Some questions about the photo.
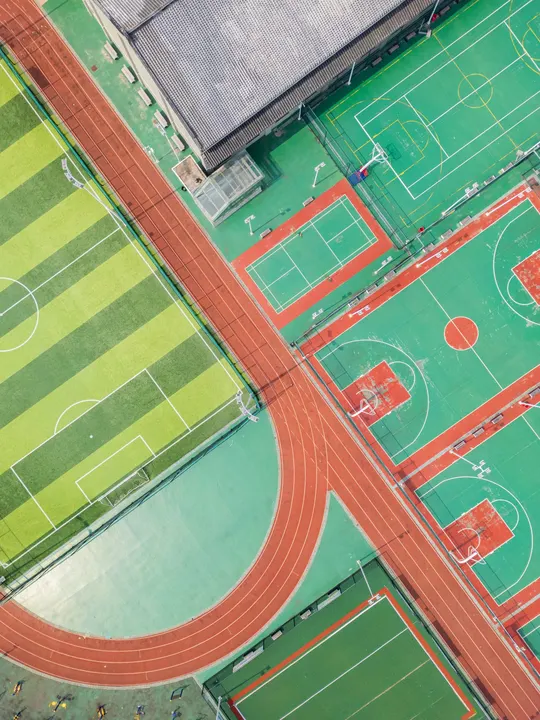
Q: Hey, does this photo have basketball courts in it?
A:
Yes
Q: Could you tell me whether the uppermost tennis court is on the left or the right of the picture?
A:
right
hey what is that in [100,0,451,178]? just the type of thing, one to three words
building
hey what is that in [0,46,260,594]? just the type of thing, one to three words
soccer field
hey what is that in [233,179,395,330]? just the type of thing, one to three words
sports court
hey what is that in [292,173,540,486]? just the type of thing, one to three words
basketball court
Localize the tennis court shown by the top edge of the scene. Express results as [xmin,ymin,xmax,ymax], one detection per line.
[303,0,540,249]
